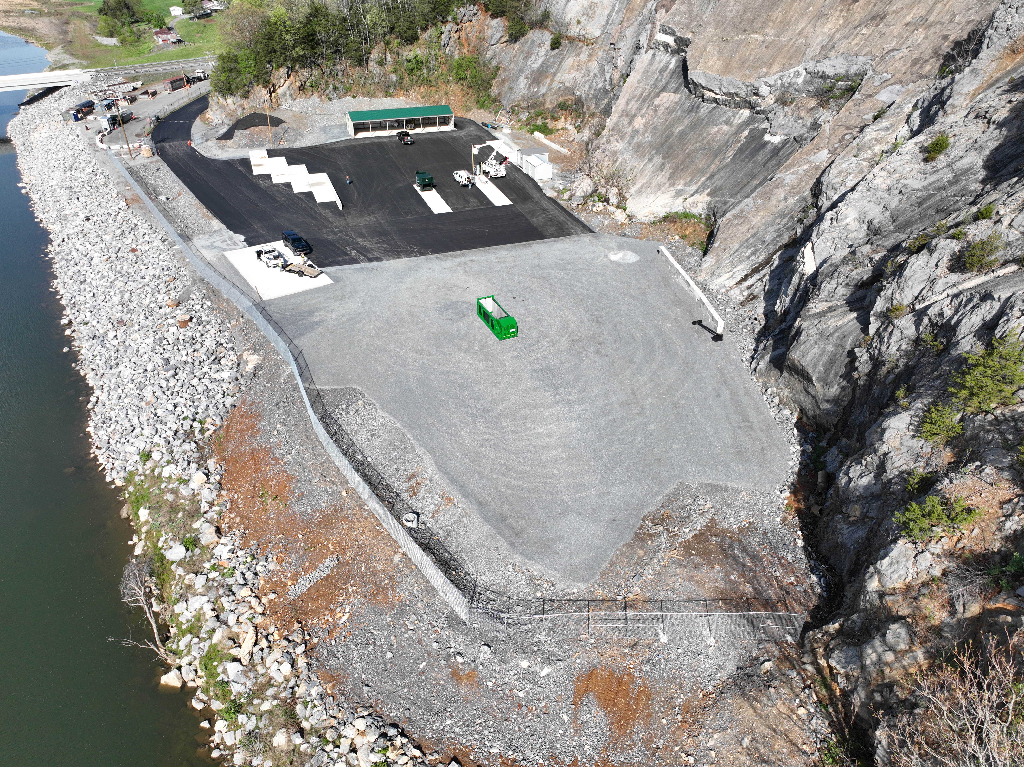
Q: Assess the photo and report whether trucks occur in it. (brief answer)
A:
Yes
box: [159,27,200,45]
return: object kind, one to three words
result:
barn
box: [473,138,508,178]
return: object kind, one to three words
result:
truck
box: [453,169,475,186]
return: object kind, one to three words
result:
vehicle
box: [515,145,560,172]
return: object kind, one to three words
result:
shed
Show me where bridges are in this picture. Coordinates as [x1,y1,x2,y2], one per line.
[0,69,90,96]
